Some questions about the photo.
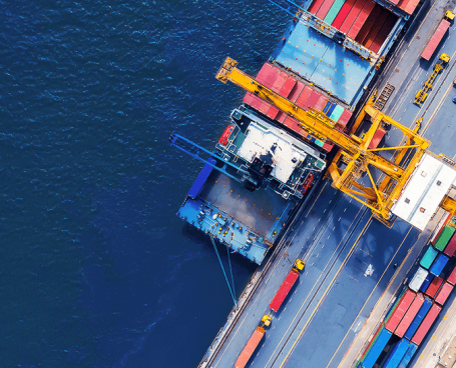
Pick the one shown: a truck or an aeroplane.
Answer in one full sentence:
This aerial view contains a truck.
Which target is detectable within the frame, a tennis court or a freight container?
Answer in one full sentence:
Visible in the photo is a freight container.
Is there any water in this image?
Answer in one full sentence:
Yes, water shows up in the scene.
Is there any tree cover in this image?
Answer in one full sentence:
No, tree cover can't be seen anywhere here.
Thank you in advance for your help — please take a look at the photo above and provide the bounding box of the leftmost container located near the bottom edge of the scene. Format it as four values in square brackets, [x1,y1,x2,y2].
[233,329,263,368]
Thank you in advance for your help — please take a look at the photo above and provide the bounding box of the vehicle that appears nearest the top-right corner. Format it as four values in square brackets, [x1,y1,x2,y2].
[440,7,456,23]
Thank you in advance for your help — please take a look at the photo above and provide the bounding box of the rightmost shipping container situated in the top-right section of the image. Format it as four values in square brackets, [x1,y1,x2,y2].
[421,18,451,61]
